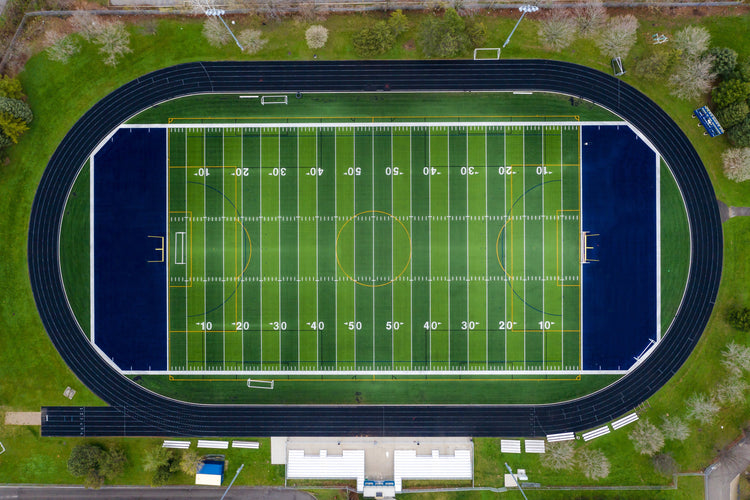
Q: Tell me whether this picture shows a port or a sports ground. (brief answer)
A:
sports ground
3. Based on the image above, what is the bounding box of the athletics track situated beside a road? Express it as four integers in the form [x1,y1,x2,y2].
[29,59,724,436]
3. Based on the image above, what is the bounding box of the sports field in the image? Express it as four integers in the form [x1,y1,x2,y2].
[61,91,691,405]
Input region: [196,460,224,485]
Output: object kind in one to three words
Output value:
shed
